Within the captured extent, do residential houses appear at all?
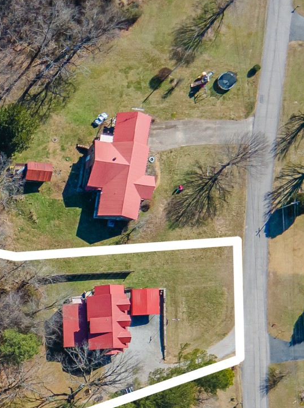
Yes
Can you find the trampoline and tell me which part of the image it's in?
top right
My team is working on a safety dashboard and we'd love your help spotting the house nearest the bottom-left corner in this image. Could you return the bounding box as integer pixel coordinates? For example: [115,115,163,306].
[59,285,131,355]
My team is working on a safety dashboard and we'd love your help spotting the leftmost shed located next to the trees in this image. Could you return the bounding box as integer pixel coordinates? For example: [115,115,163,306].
[24,163,54,184]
